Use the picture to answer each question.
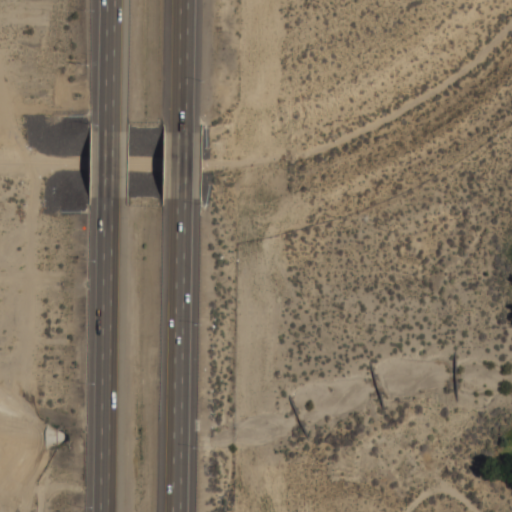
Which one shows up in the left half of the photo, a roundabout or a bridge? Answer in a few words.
bridge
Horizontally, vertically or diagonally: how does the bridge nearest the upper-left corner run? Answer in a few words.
vertically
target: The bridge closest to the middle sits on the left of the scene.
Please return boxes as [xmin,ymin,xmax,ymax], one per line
[163,124,202,206]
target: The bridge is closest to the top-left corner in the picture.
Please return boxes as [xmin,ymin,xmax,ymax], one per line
[90,124,128,206]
